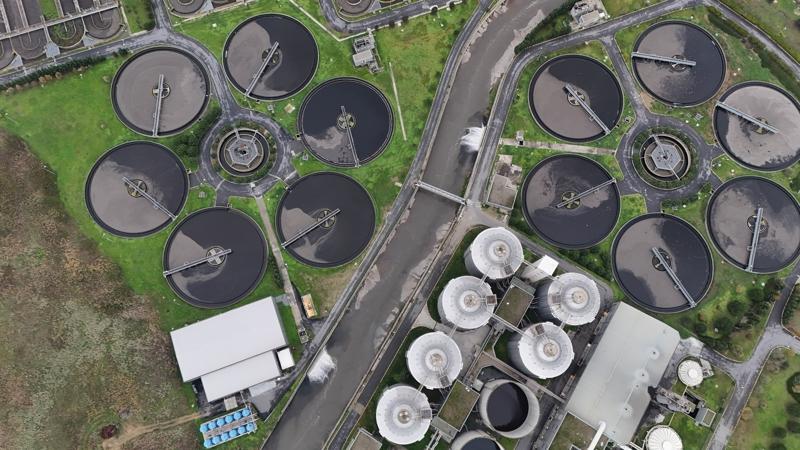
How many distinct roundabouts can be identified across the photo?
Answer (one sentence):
Looking from above, you can make out 2 roundabouts.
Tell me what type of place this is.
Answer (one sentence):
What you see here is an industrial area.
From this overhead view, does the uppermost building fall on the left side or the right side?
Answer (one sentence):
You can find the uppermost building on the right side of the picture.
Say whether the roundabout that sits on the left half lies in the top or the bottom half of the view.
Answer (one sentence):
It is in the top half that the roundabout that sits on the left half appears.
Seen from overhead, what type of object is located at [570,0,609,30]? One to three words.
building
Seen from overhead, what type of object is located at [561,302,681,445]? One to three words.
building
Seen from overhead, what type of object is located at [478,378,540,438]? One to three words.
storage tank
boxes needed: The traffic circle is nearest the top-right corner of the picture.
[623,120,709,202]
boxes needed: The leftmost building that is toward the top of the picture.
[352,31,384,74]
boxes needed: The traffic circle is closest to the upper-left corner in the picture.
[199,114,288,196]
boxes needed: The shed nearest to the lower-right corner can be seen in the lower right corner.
[692,407,716,427]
